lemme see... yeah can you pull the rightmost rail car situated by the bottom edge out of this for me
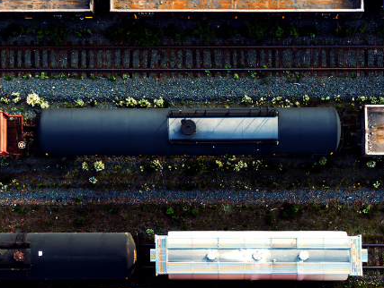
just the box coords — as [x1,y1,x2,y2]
[144,231,373,280]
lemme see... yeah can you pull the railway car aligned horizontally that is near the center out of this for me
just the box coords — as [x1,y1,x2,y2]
[23,106,358,160]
